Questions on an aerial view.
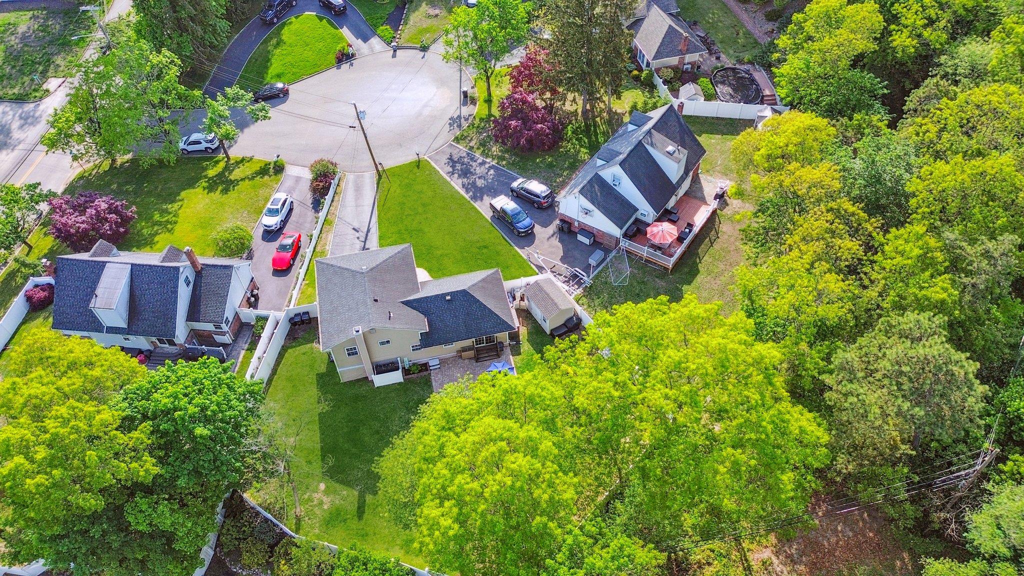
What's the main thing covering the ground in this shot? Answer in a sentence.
For the most part, this view shows trees.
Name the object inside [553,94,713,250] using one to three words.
house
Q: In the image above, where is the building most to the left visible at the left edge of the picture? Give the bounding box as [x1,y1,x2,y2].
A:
[51,236,260,372]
